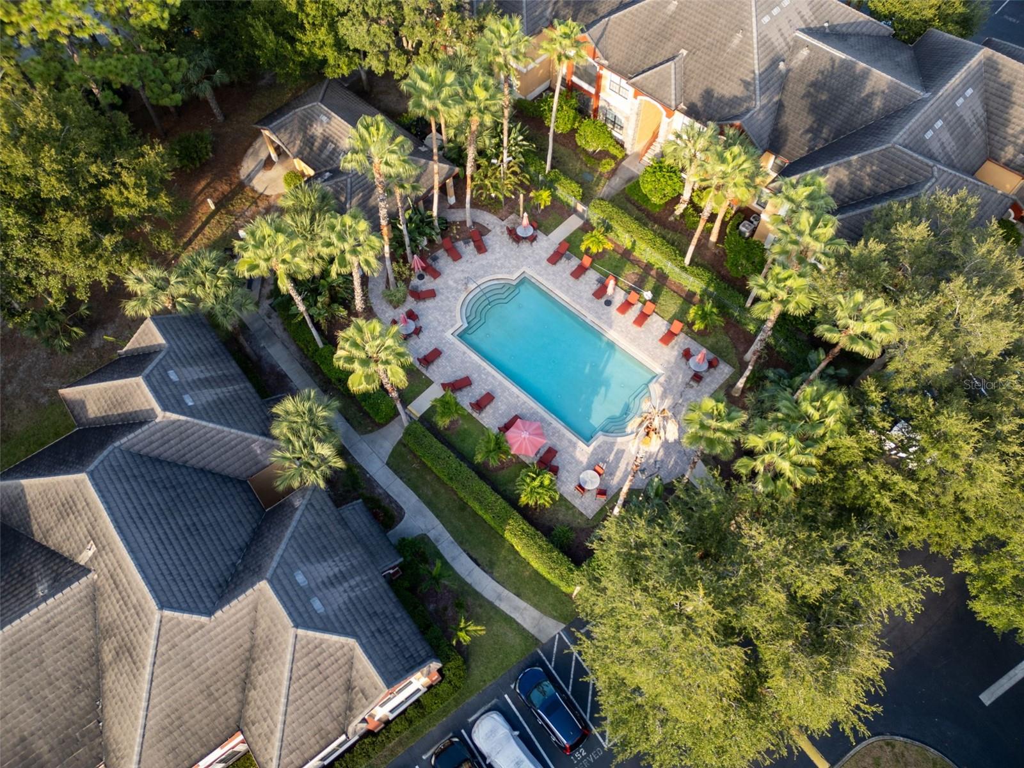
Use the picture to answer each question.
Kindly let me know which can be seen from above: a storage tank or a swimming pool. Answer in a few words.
swimming pool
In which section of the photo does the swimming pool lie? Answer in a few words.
center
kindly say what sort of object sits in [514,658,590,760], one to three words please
car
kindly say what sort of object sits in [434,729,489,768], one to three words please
car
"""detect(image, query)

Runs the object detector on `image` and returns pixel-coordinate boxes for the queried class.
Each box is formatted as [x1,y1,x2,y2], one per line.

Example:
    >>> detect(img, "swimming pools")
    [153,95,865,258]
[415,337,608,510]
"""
[449,272,664,451]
